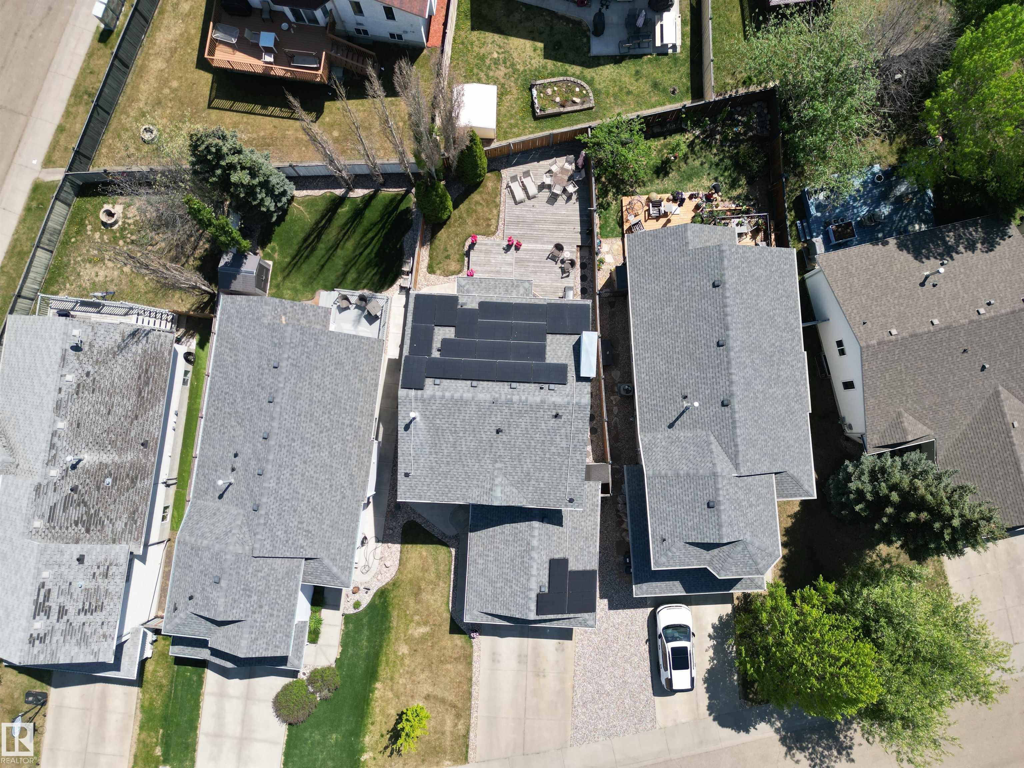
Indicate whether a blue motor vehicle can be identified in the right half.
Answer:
No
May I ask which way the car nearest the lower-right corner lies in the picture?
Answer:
up and down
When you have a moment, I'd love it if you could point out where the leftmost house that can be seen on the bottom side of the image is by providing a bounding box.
[0,313,192,680]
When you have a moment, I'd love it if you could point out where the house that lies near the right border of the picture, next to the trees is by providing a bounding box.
[802,210,1024,545]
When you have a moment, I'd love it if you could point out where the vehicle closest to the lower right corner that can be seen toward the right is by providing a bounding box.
[654,604,697,693]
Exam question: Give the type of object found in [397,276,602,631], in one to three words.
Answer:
house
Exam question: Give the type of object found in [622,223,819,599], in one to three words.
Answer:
house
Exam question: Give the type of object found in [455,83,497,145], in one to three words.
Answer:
shed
